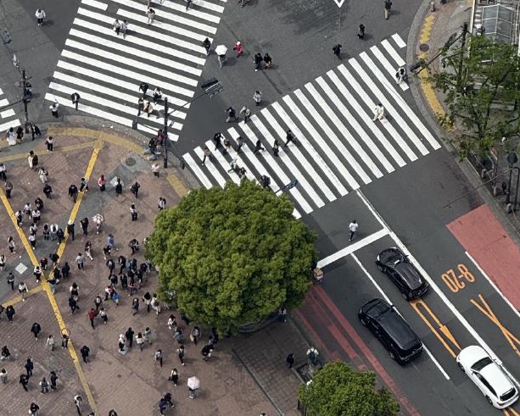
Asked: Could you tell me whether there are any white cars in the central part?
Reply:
No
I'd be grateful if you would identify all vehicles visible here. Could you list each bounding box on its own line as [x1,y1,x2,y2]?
[360,298,423,370]
[457,344,520,413]
[374,245,431,307]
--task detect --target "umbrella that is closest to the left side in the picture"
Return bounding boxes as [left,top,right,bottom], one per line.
[89,215,105,228]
